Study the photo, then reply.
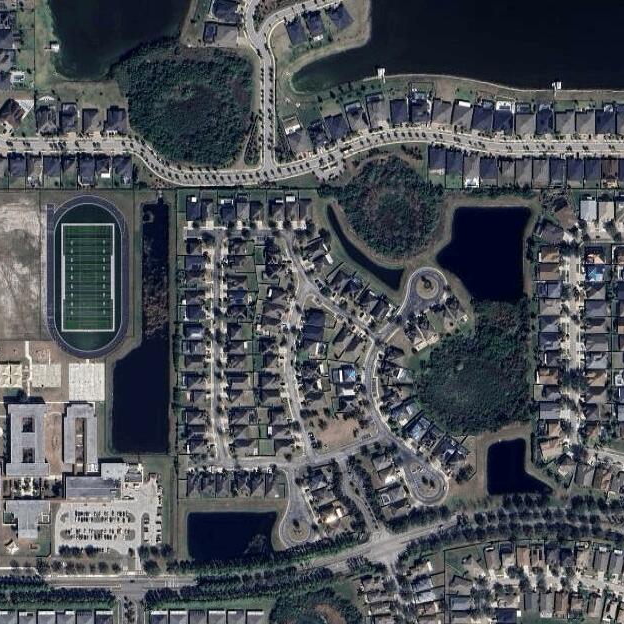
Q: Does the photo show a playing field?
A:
Yes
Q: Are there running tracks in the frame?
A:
Yes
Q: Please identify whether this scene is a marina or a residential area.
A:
residential area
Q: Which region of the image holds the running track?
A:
left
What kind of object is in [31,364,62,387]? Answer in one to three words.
basketball court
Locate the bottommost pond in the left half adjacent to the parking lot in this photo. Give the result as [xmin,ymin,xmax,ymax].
[187,512,279,560]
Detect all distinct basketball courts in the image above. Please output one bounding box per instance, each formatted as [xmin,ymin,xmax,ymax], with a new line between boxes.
[31,364,62,387]
[70,363,104,401]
